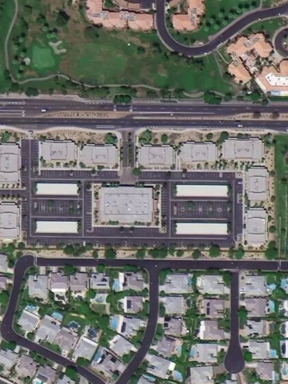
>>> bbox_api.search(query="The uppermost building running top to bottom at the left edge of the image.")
[0,142,19,183]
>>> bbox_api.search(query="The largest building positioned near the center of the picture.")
[92,184,161,228]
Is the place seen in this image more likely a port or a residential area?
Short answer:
residential area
